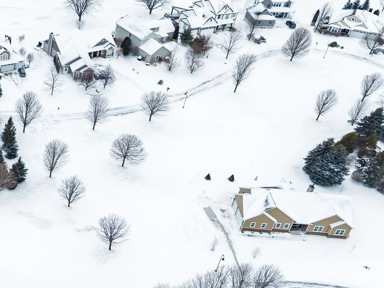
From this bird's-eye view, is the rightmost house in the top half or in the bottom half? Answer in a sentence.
The top half of the photo is where the rightmost house is.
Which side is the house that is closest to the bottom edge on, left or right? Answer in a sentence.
It is on the right.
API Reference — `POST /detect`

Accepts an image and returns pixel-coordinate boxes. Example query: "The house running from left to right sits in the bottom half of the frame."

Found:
[229,177,355,241]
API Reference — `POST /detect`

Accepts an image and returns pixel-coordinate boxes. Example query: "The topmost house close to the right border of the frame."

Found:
[323,0,380,42]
